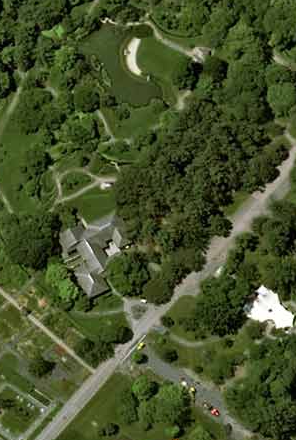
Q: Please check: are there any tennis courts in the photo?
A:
No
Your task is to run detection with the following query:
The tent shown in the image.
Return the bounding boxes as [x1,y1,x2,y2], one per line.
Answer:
[247,285,294,328]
